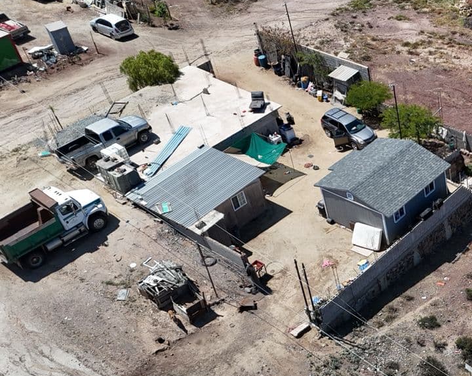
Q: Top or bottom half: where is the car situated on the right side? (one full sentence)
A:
The car situated on the right side sits in the top half of the picture.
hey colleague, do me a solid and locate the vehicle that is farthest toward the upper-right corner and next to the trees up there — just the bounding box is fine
[318,108,378,150]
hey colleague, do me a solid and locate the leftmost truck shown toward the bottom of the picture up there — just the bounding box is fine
[0,192,113,275]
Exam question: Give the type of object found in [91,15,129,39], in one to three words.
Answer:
car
